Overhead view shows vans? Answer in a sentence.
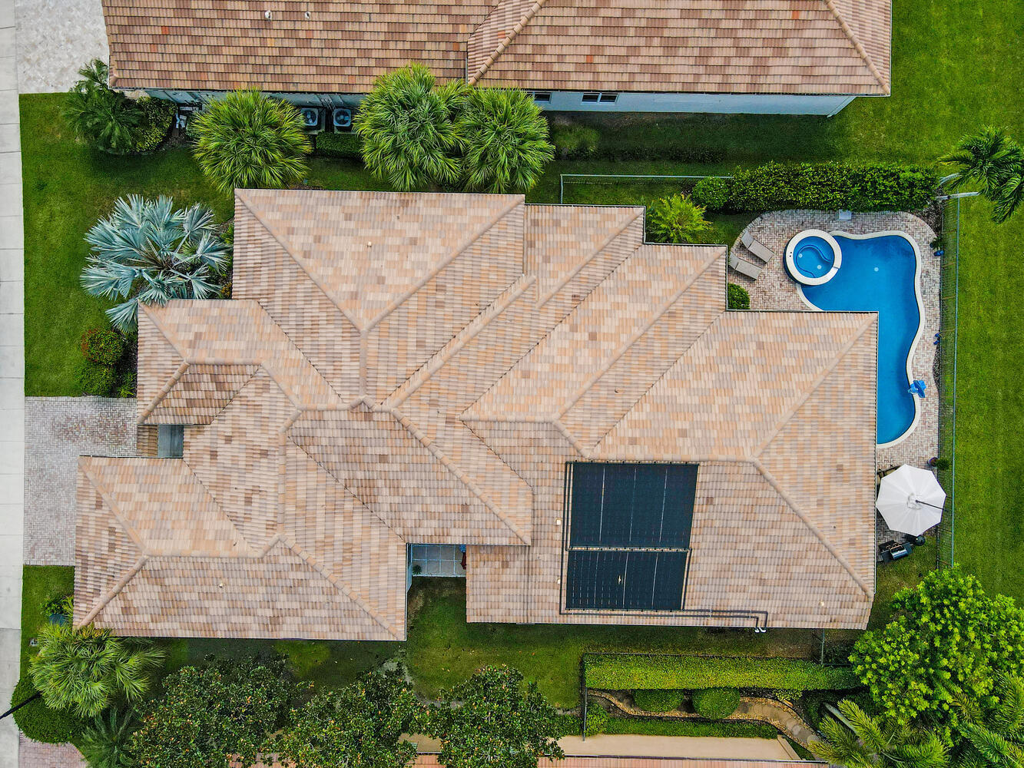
No, this view has no van in it.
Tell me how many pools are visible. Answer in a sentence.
The picture shows just 1 pool.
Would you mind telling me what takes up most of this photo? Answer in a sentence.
For the most part, this view shows buildings.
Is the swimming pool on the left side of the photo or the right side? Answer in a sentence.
It is on the right.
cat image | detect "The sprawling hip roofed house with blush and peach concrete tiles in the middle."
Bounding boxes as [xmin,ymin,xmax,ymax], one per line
[73,186,882,643]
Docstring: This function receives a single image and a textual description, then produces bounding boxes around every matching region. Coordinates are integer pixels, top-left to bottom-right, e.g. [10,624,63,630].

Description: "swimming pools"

[799,228,927,449]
